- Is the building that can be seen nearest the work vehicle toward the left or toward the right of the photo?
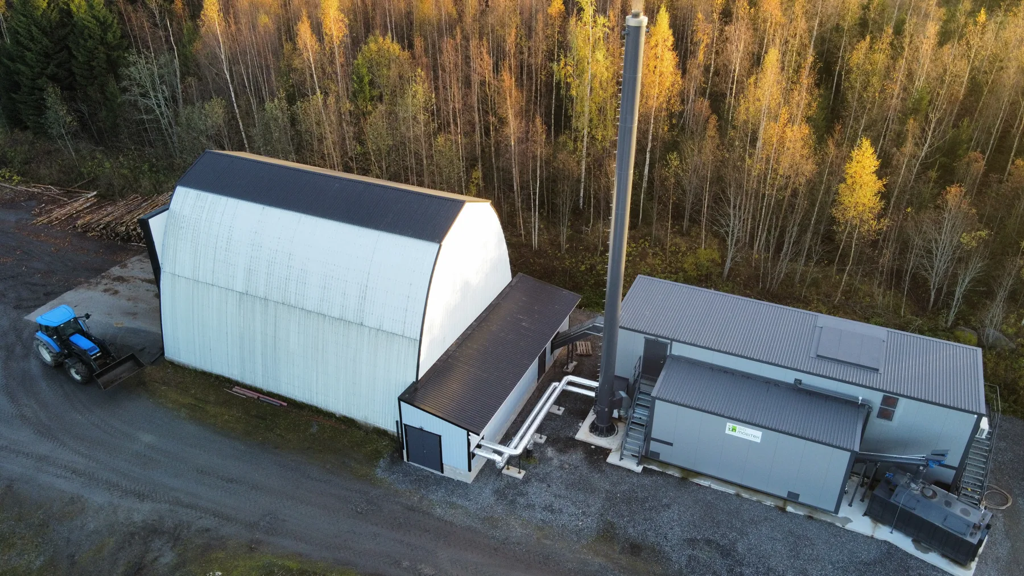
left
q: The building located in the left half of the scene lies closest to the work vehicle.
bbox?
[135,149,513,434]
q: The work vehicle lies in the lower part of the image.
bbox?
[35,307,143,398]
